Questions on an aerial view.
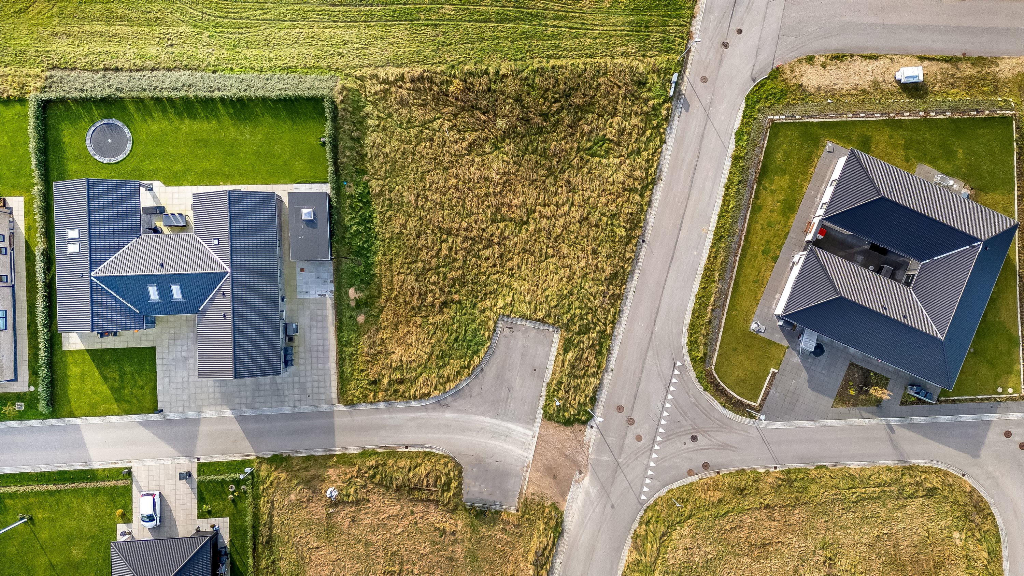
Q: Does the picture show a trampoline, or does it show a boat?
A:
trampoline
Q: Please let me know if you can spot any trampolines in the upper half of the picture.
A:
Yes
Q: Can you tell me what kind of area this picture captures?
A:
residential area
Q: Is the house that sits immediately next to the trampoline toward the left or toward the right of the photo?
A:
left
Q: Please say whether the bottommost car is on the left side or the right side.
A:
left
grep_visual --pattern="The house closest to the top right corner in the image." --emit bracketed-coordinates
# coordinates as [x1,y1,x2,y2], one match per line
[775,148,1024,391]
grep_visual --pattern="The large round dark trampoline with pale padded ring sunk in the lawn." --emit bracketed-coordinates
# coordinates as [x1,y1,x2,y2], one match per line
[85,117,132,163]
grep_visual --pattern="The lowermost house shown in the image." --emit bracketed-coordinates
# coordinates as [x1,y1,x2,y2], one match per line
[110,527,218,576]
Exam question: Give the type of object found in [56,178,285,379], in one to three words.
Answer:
house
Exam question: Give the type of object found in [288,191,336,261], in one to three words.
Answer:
building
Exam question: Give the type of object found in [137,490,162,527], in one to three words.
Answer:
car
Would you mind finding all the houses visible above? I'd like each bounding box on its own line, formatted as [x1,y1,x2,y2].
[775,148,1024,391]
[0,211,16,382]
[110,527,218,576]
[56,178,285,379]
